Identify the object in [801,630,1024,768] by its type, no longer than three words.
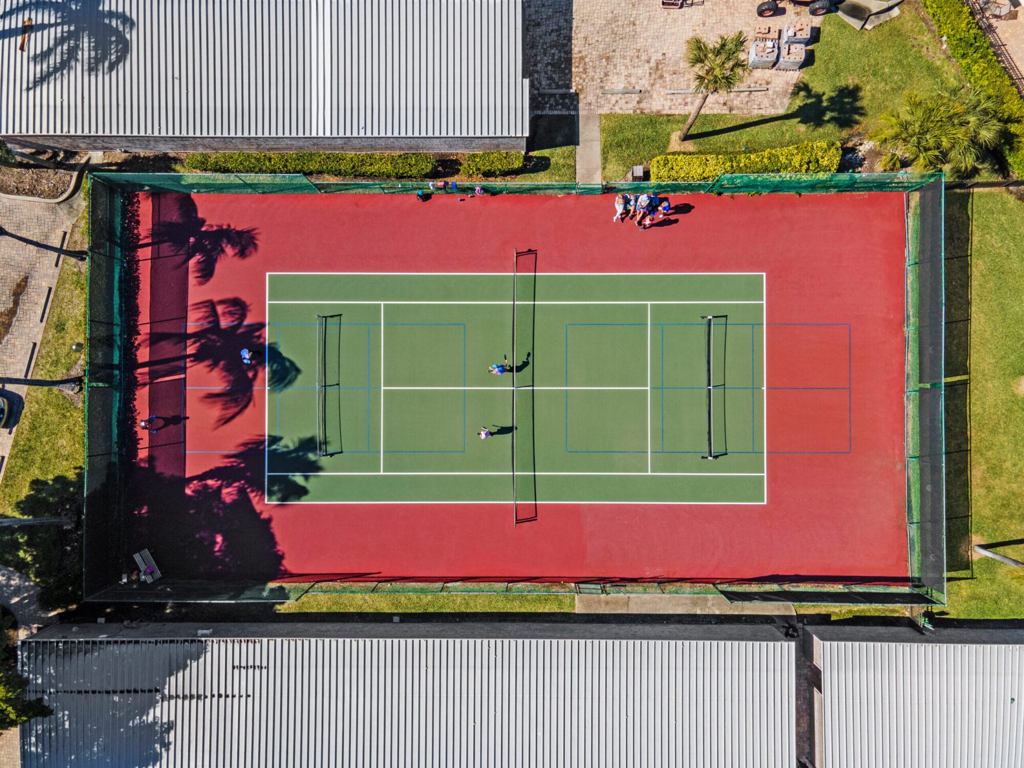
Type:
building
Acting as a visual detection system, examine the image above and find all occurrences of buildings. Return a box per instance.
[0,0,529,156]
[16,627,798,768]
[801,630,1024,768]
